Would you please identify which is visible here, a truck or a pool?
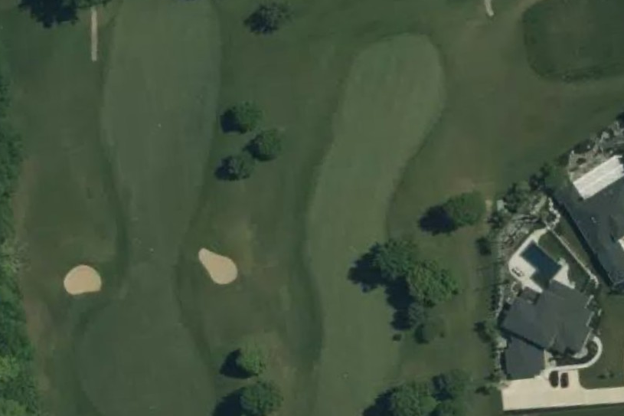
pool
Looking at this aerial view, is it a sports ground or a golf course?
golf course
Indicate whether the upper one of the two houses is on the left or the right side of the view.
right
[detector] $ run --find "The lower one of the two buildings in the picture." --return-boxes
[502,281,595,383]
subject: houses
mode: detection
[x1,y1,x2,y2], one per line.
[502,281,595,383]
[562,155,624,286]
